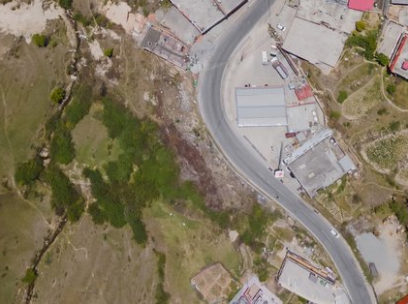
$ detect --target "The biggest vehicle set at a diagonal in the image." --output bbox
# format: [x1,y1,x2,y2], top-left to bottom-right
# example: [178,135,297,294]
[269,57,289,81]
